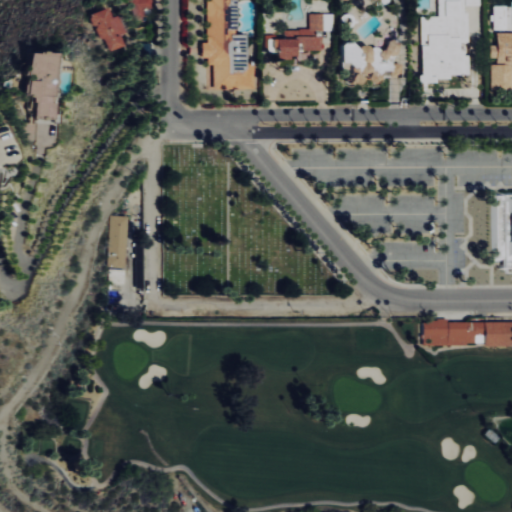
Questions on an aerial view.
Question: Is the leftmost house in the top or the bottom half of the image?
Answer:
top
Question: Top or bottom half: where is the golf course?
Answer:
bottom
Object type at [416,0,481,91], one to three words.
house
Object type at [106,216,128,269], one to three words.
shed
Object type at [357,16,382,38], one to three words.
swimming pool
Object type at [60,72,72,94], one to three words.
swimming pool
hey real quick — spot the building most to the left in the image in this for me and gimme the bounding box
[26,53,62,120]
